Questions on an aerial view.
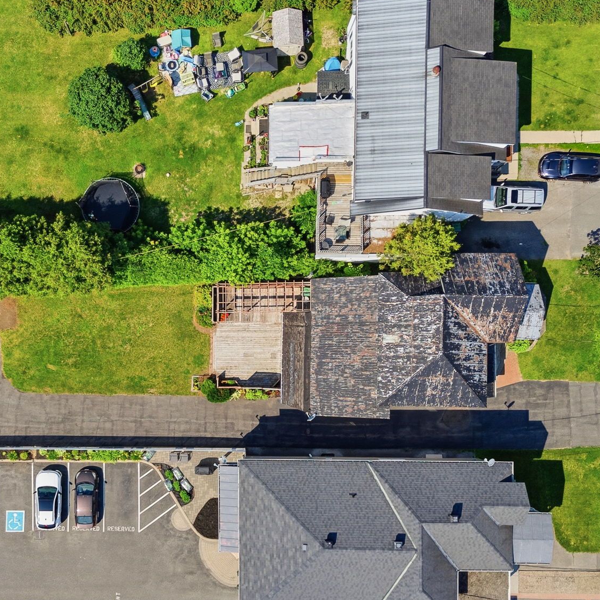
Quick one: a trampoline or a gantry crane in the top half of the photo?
trampoline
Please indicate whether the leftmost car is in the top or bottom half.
bottom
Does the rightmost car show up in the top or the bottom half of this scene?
top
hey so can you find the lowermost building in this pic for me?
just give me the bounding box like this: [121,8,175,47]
[219,453,554,600]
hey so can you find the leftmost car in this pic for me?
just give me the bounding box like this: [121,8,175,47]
[32,468,62,529]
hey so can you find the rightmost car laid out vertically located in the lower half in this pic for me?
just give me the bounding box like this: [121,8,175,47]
[71,468,101,530]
